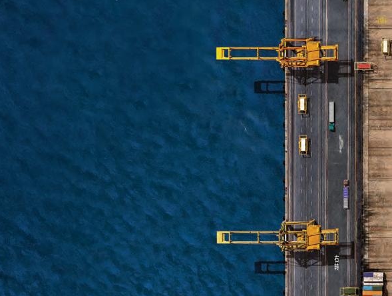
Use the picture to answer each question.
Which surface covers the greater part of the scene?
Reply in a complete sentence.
What you mostly see from above here is water.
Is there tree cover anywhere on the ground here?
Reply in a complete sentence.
No, the scene doesn't show any tree cover.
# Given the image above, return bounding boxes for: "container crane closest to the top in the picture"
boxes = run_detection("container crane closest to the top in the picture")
[216,36,337,69]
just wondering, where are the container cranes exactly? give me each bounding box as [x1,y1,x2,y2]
[216,218,337,252]
[216,36,337,69]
